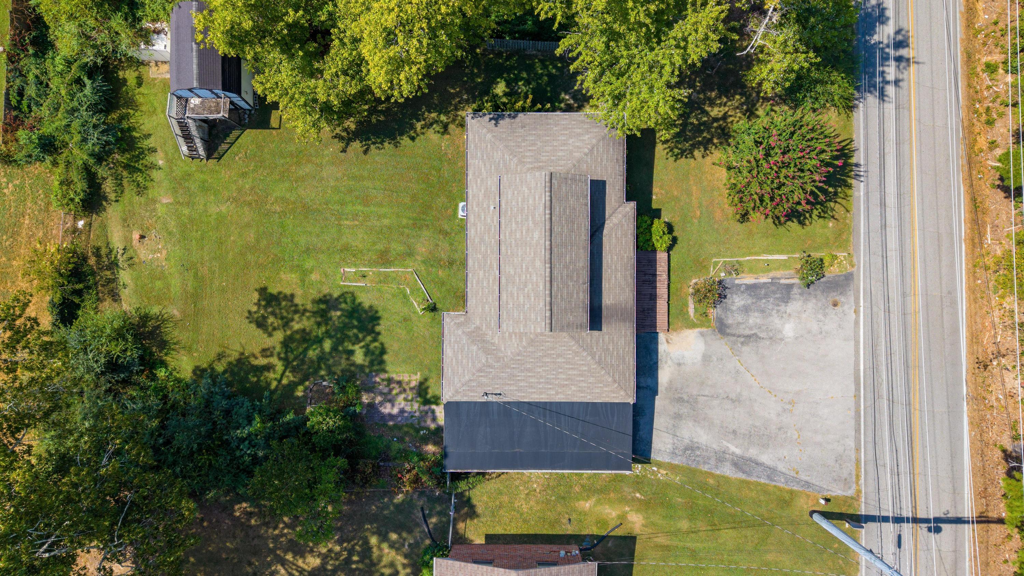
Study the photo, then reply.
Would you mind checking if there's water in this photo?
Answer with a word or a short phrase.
No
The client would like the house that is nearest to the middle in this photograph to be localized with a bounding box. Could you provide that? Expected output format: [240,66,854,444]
[441,112,637,473]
